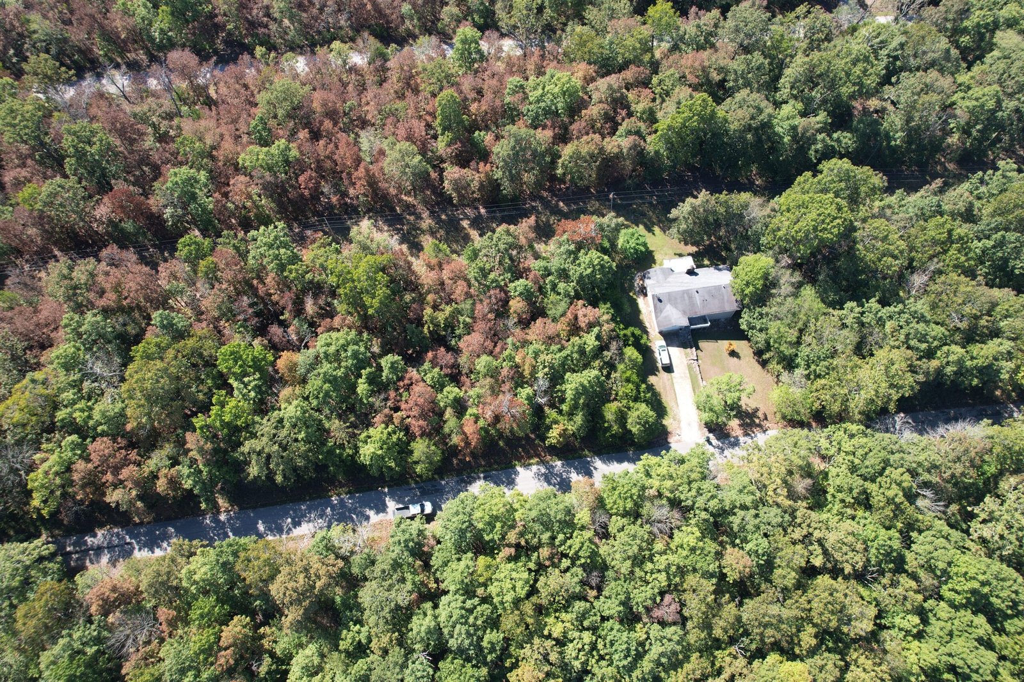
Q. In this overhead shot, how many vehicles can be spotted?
2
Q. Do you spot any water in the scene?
No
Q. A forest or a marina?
forest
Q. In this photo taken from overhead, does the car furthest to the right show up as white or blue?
white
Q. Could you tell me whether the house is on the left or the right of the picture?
right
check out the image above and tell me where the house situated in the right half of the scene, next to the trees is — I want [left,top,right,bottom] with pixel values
[641,255,743,347]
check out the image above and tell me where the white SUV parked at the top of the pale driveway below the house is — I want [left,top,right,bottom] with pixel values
[651,341,672,370]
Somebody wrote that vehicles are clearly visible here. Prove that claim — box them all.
[651,341,672,370]
[392,500,434,521]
